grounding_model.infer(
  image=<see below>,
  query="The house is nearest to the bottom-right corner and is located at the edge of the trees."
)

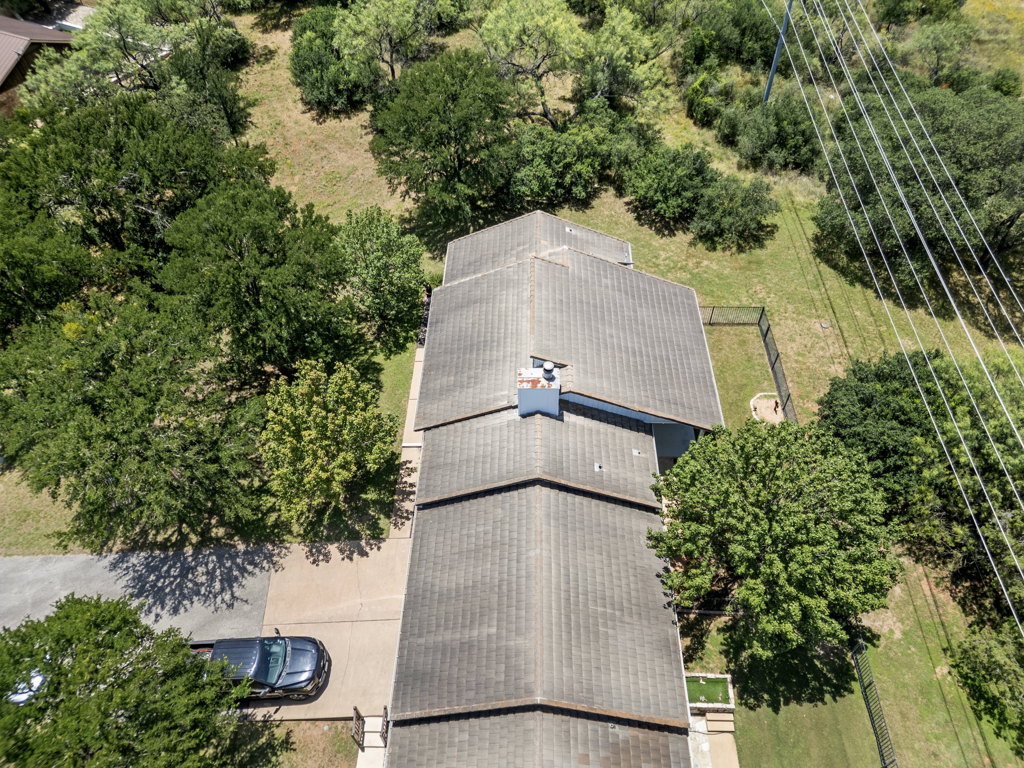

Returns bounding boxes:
[386,208,727,768]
